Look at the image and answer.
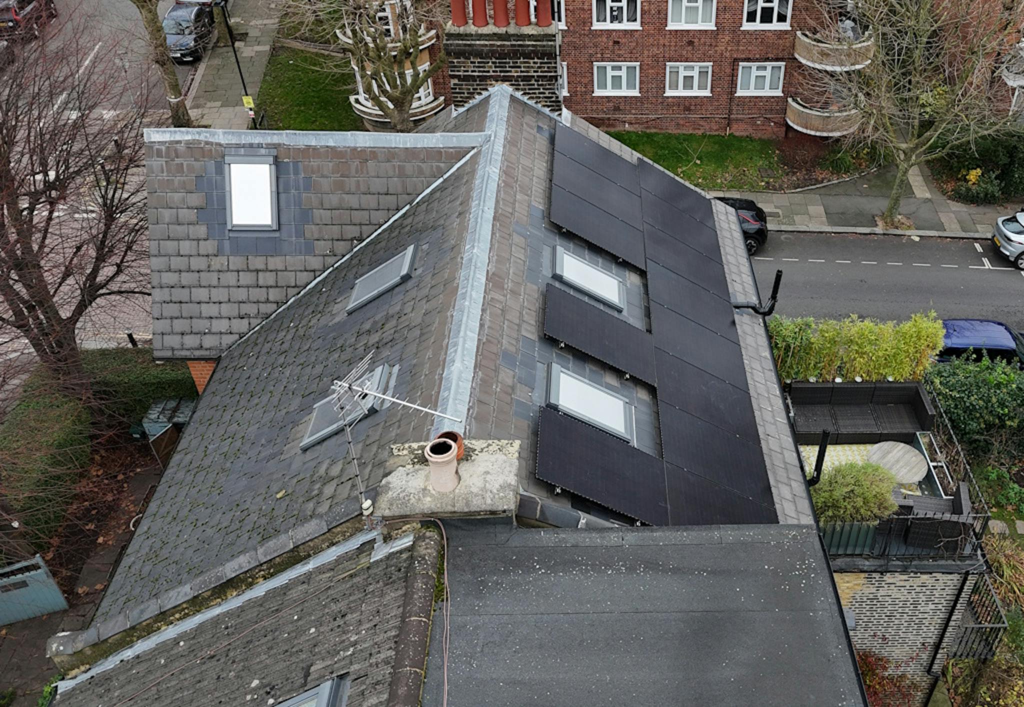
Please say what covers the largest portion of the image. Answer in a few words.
buildings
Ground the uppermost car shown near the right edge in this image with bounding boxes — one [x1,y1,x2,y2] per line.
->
[989,201,1024,272]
